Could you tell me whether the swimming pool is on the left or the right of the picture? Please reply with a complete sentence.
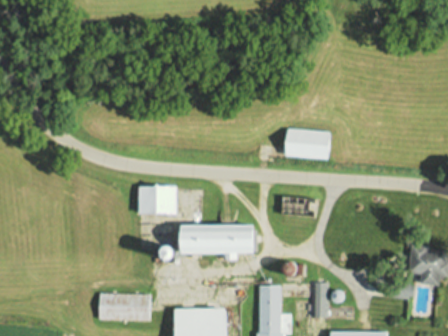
The swimming pool appears in the right half of the scene.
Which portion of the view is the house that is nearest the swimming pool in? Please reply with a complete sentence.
Look in the bottom right portion of the view to spot the house that is nearest the swimming pool.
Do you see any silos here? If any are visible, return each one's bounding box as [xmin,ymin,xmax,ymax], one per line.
[284,262,308,277]
[158,245,175,262]
[332,290,346,304]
